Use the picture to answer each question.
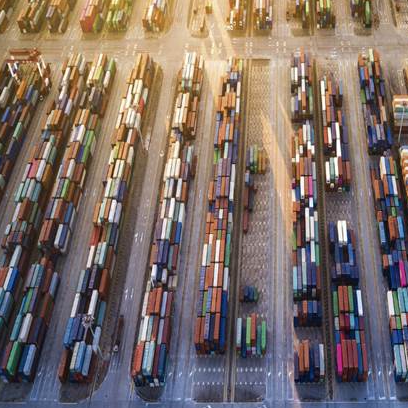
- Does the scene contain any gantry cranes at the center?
No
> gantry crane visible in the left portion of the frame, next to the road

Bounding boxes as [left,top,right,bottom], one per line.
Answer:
[3,50,53,94]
